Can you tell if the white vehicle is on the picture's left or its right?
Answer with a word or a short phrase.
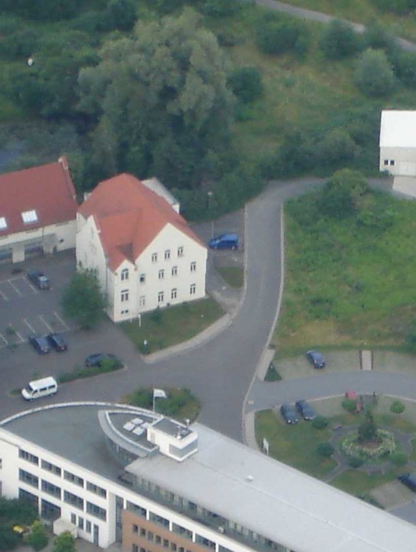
left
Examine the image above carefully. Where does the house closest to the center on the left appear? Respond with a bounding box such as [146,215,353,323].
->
[71,183,208,322]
